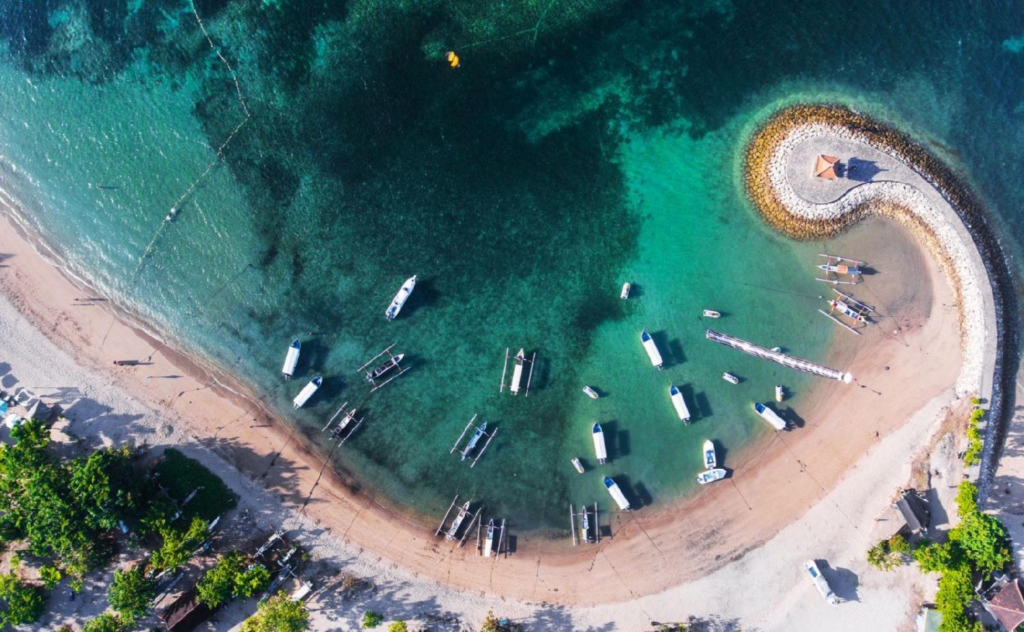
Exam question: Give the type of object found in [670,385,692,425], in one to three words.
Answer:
boat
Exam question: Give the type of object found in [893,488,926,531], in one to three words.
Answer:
shed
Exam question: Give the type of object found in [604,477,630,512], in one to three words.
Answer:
boat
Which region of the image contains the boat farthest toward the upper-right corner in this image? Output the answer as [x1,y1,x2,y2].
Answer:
[818,254,864,284]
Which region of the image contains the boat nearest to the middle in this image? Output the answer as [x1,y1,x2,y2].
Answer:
[501,349,536,396]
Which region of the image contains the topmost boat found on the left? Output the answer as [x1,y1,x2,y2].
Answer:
[385,274,416,321]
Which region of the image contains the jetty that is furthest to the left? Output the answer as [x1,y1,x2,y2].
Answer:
[707,330,844,381]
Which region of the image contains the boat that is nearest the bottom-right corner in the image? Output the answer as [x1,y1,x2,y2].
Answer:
[807,565,841,609]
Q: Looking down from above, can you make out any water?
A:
Yes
